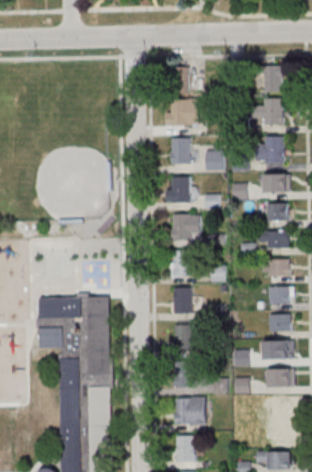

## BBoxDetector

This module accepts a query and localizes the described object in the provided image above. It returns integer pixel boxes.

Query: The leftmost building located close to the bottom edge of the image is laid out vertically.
[38,292,114,472]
